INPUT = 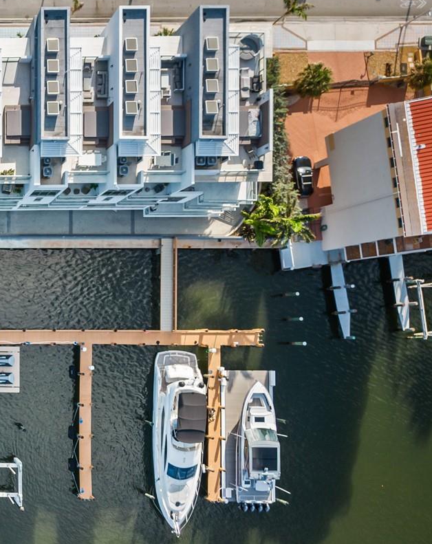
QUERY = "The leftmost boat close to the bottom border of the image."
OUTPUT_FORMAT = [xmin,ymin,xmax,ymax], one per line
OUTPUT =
[152,349,212,541]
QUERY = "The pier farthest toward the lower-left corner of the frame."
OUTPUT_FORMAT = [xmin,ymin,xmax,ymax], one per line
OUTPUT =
[74,345,99,502]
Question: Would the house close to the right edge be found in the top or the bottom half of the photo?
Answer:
top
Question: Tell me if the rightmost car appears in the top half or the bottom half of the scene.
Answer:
top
